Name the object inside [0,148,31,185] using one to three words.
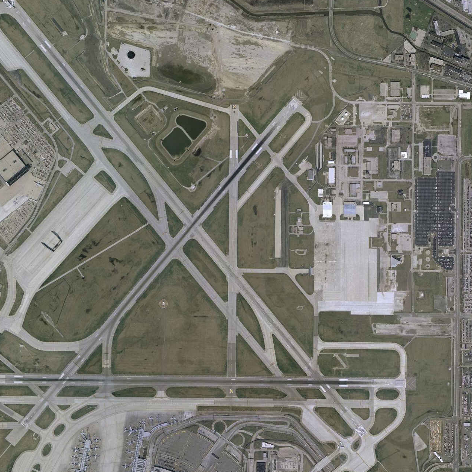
hangar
